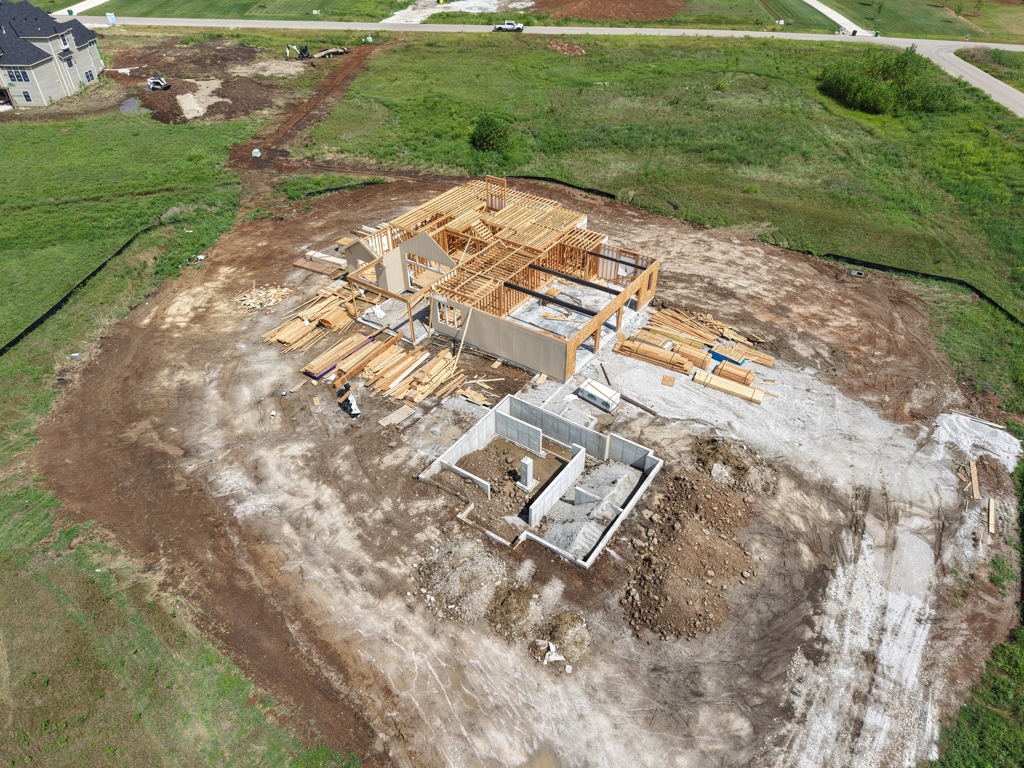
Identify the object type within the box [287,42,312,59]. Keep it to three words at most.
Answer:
work vehicle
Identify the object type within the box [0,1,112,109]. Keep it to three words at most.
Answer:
house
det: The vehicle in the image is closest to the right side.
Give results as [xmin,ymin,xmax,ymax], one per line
[494,19,523,32]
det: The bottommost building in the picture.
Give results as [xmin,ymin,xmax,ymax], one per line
[333,174,661,385]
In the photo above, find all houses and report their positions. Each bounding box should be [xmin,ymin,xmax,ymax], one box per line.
[333,174,661,385]
[0,1,112,109]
